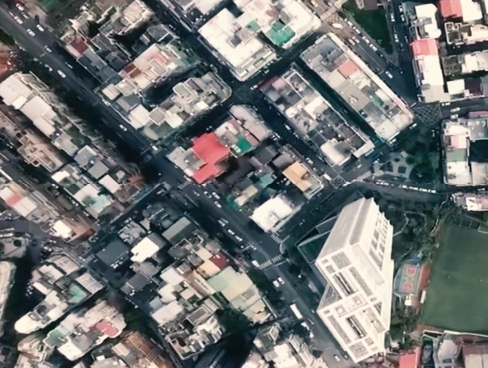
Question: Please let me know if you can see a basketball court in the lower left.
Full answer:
No, there is no basketball court in the lower left.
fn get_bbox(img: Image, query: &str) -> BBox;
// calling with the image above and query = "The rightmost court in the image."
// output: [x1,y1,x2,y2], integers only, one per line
[394,260,430,295]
